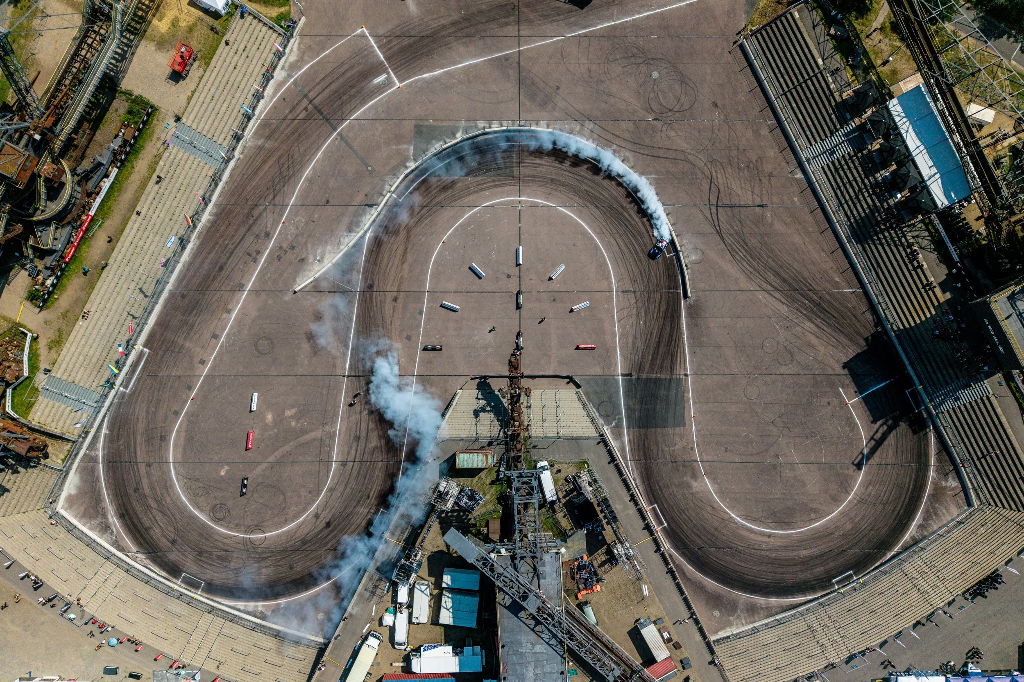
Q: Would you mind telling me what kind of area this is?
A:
sports ground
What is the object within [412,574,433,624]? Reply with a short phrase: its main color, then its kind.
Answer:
white trailer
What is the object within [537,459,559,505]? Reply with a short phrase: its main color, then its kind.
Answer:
white vehicle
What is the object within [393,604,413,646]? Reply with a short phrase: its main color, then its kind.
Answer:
white vehicle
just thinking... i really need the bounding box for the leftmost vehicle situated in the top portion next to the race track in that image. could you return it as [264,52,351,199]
[0,0,137,291]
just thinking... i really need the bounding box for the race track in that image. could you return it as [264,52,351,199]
[100,0,934,606]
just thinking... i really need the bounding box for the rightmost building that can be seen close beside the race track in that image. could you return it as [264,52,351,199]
[940,232,1024,376]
